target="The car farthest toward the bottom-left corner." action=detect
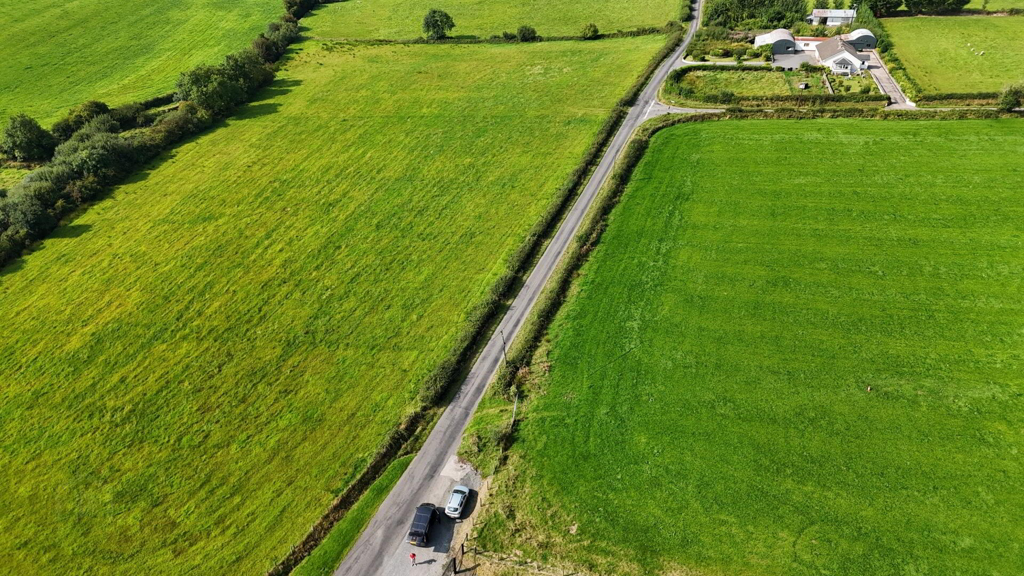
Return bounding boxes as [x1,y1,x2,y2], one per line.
[404,503,438,545]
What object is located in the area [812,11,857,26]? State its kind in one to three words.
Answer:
shed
